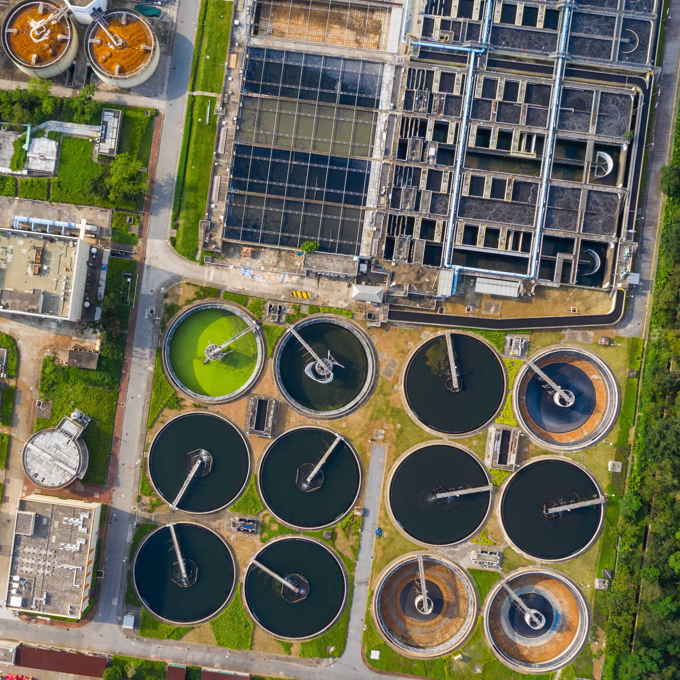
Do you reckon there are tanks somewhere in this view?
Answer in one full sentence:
Yes, a tank appears in the view.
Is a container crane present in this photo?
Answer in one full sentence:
No, the frame has no container crane in it.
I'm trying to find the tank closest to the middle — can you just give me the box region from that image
[270,311,381,423]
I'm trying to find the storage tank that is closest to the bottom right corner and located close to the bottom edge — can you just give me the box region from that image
[481,562,593,675]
